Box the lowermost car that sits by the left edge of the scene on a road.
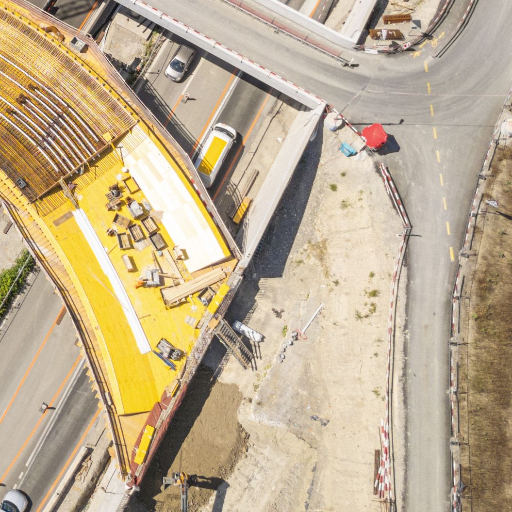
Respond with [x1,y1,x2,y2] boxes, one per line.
[0,486,31,512]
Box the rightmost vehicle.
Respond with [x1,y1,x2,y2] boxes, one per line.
[196,122,243,192]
